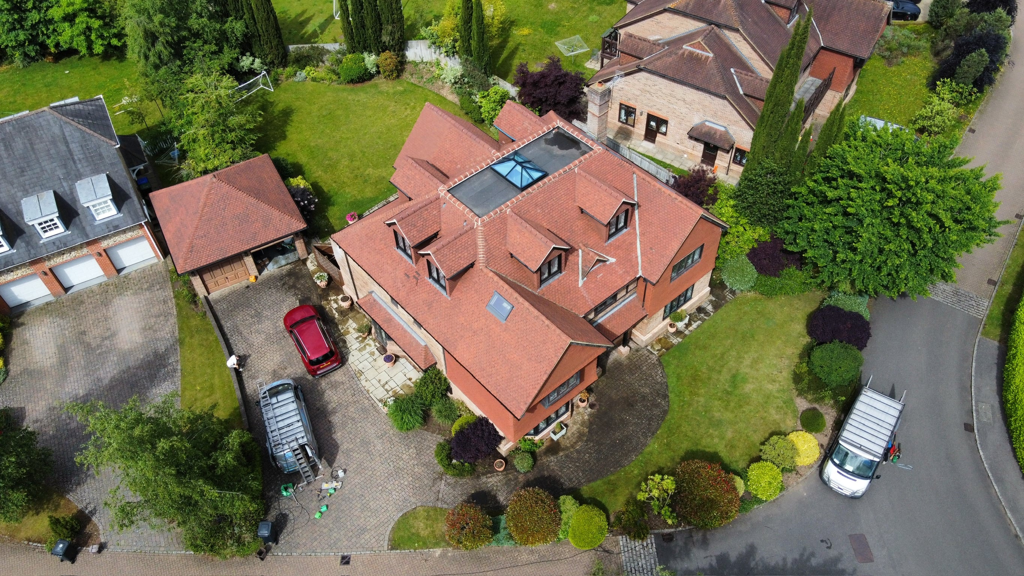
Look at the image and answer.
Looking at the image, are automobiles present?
Yes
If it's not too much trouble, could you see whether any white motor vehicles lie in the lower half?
Yes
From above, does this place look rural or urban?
urban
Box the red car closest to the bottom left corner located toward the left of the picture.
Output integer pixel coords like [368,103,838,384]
[283,303,344,384]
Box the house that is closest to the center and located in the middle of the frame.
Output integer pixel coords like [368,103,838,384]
[330,98,729,461]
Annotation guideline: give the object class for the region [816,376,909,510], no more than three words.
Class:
van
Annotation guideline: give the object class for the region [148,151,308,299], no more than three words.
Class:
building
